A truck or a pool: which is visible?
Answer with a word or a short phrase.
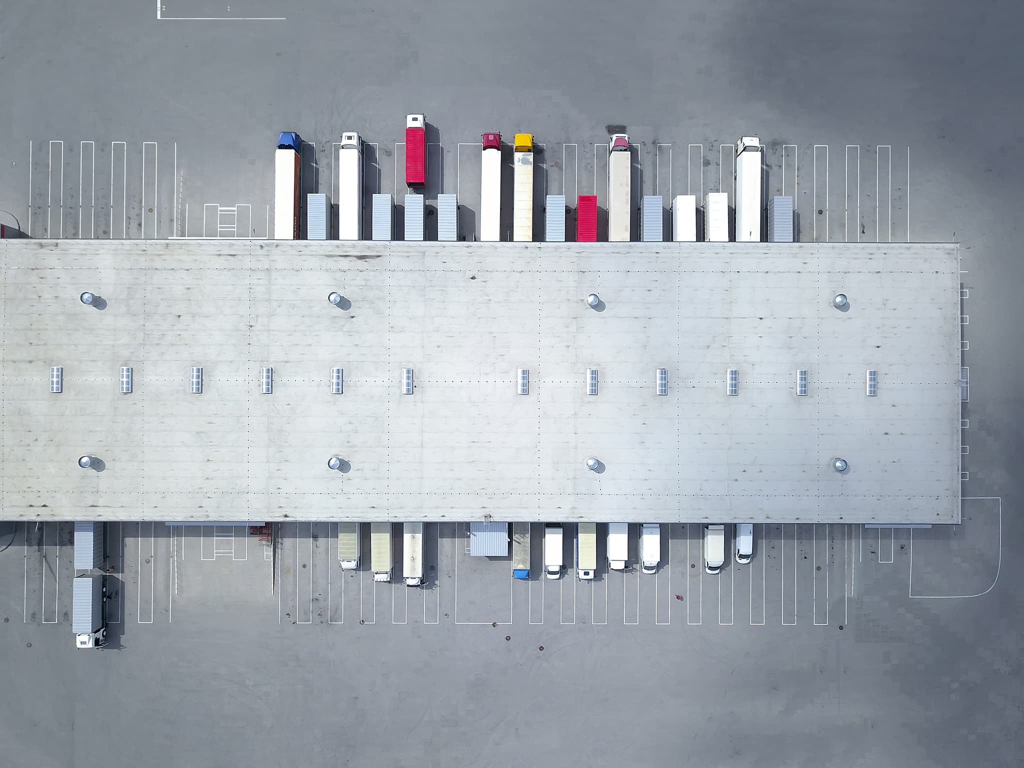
truck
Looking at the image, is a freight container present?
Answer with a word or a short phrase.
Yes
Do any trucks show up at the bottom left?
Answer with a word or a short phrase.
Yes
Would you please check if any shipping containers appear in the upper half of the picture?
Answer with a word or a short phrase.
Yes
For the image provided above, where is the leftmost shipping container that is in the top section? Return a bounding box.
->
[307,194,334,240]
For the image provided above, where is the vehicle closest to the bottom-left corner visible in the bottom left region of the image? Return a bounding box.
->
[73,573,109,650]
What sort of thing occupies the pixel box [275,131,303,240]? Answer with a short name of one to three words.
truck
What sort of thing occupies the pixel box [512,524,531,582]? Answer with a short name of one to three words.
vehicle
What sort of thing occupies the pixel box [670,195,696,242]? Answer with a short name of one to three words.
shipping container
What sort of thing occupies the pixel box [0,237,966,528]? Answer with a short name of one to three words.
warehouse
